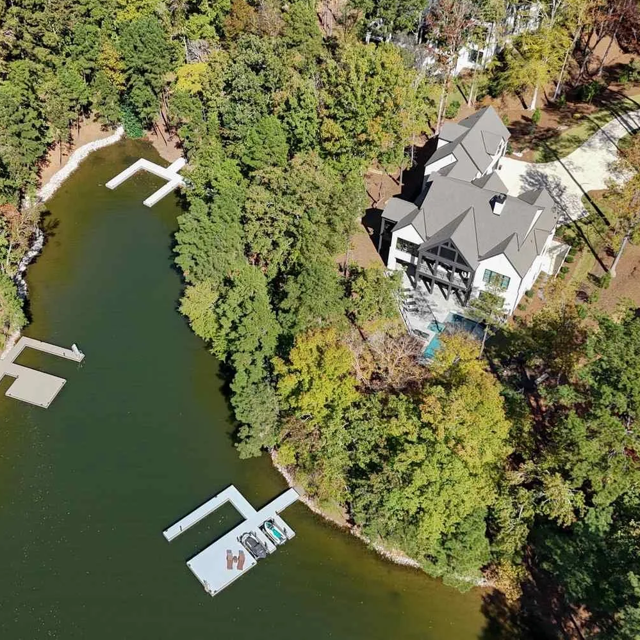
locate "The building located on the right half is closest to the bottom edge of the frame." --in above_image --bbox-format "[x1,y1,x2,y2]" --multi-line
[379,101,568,314]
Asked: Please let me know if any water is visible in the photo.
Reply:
Yes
